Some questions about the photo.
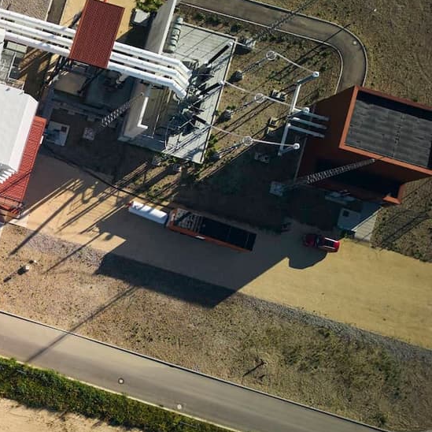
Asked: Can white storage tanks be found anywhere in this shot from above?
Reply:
No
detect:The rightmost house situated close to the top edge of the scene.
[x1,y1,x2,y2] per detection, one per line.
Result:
[38,0,126,93]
